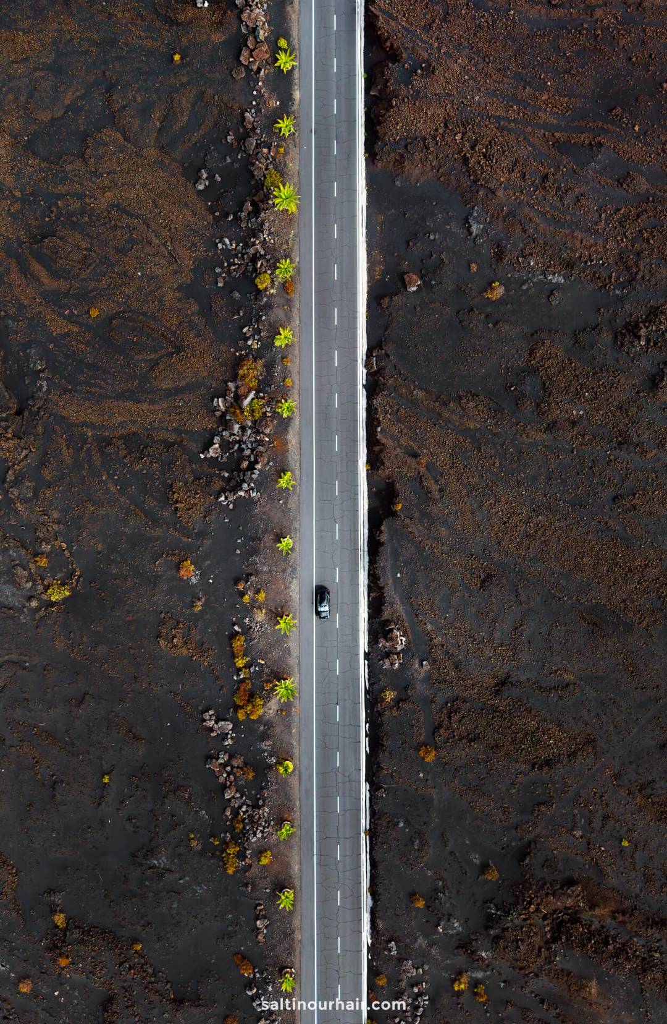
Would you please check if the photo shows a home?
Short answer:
No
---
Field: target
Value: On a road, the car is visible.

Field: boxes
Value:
[313,586,331,619]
